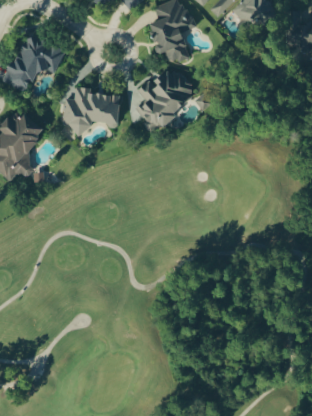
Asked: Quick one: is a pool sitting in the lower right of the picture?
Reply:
No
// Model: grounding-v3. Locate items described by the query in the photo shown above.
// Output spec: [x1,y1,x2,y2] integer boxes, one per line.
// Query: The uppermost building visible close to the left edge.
[1,37,64,87]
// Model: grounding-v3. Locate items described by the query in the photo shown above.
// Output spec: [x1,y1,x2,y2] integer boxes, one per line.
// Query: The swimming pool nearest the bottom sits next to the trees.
[32,138,59,168]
